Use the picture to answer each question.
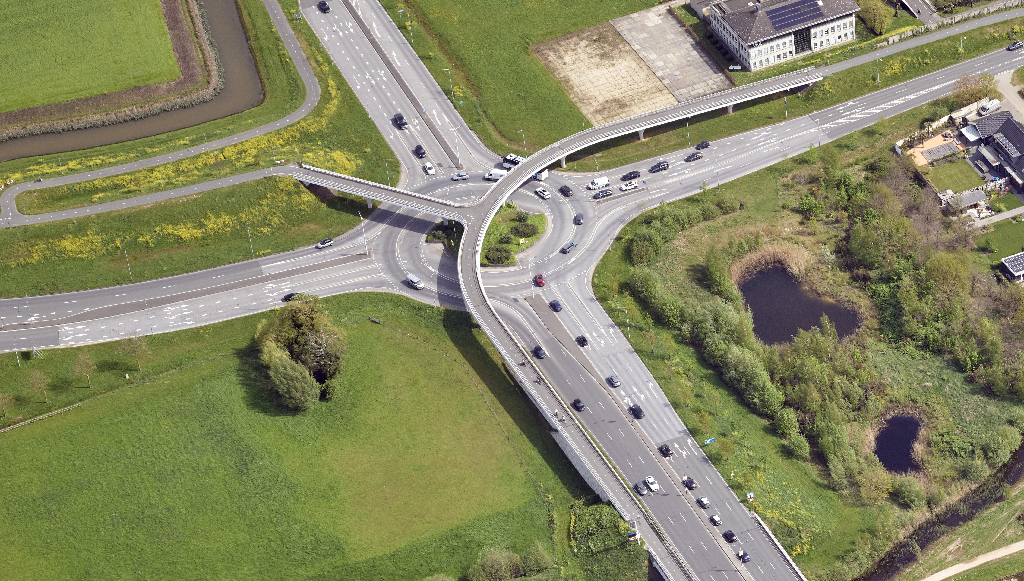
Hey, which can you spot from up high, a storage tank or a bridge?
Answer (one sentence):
Of the two, only a bridge appears.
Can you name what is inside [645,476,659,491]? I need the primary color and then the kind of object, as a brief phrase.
white car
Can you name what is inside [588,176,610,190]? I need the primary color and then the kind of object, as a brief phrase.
white vehicle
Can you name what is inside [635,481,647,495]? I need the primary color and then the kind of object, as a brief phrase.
gray vehicle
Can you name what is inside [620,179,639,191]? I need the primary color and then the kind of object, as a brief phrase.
white vehicle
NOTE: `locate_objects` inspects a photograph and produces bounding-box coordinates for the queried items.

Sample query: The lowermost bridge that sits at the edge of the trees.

[297,68,810,523]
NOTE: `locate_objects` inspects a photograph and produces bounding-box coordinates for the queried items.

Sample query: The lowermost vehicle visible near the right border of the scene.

[978,96,1002,116]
